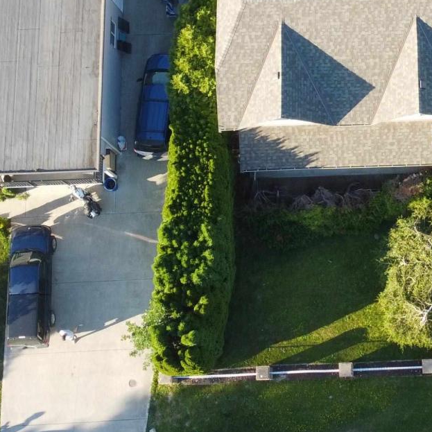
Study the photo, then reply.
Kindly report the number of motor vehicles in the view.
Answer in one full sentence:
The picture shows 3 motor vehicles.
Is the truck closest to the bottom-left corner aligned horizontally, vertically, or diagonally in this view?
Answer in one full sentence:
What the image shows is the truck closest to the bottom-left corner lying vertically.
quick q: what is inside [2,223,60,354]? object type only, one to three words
truck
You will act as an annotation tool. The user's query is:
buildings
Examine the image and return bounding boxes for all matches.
[0,0,127,192]
[213,0,432,178]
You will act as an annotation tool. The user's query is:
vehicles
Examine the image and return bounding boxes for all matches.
[73,187,106,224]
[135,54,183,166]
[2,223,60,354]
